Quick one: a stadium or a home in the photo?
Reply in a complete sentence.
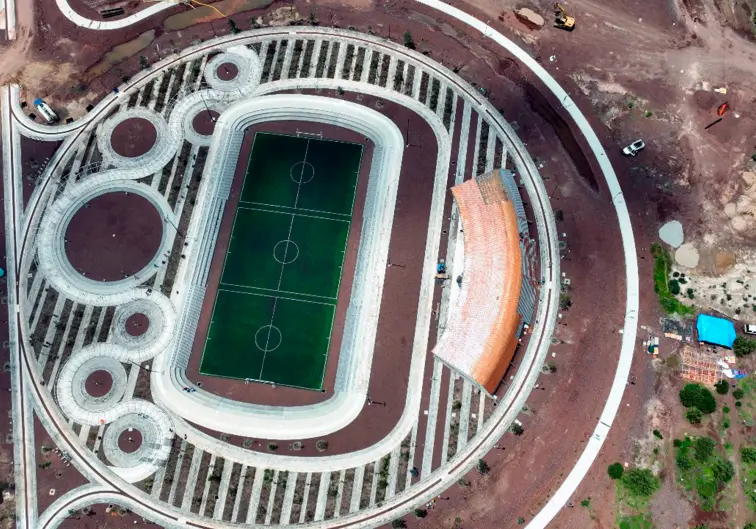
The one in the frame is a stadium.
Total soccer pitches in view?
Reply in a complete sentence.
Altogether the scene contains 1 soccer pitch.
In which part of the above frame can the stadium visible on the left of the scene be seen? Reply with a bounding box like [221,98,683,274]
[151,94,404,445]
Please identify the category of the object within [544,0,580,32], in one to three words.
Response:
work vehicle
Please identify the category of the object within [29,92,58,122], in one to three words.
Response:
truck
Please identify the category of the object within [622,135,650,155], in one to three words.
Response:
vehicle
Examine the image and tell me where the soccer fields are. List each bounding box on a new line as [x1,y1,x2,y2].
[196,131,365,392]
